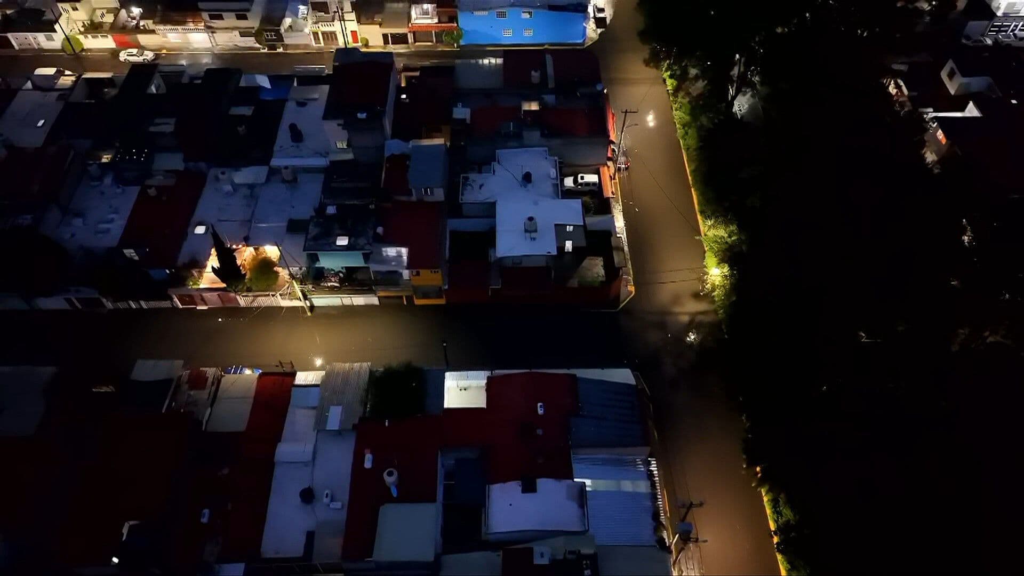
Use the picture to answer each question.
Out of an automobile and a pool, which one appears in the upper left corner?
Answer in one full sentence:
The one visible in the upper left corner is an automobile.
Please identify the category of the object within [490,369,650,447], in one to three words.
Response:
house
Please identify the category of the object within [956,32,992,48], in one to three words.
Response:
car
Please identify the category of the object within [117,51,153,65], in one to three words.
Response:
car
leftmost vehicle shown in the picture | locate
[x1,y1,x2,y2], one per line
[27,69,73,91]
